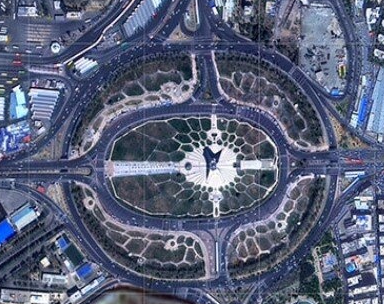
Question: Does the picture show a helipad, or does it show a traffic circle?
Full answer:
Of the two, only a traffic circle appears.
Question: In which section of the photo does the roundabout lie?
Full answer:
Look in the center portion of the view to spot the roundabout.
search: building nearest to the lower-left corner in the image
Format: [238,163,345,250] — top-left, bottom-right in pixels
[1,289,28,304]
